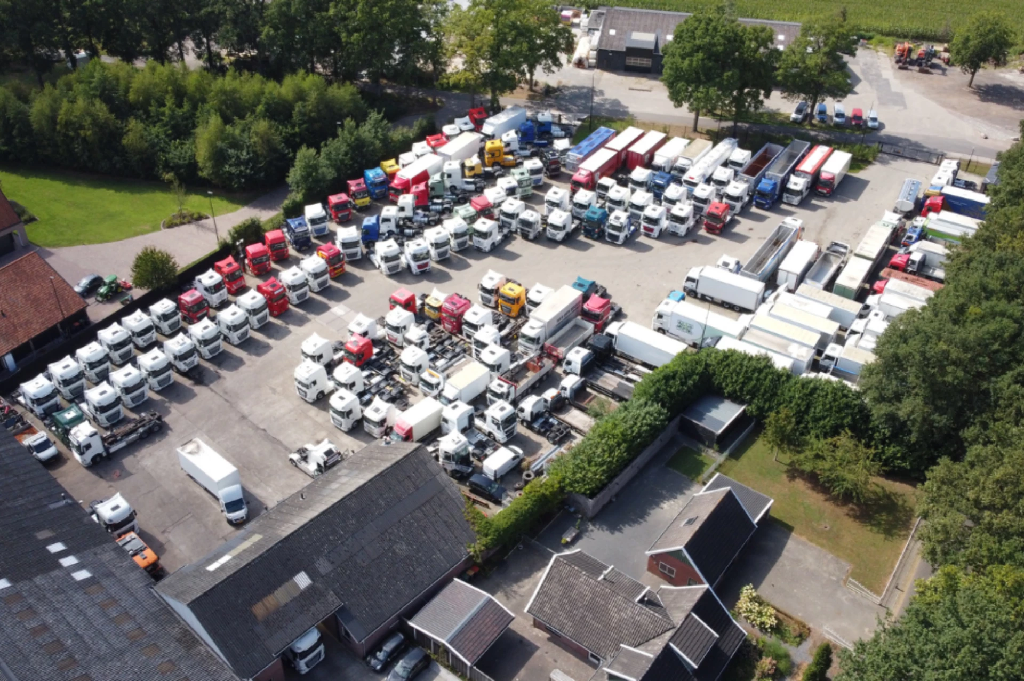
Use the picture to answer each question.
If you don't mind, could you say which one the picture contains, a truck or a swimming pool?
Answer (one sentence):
The one in the frame is a truck.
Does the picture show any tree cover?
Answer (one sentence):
Yes, the picture does contain tree cover.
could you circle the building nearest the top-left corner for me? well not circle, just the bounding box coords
[0,190,28,248]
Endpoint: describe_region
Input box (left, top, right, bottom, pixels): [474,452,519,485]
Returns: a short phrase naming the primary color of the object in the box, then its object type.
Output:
white van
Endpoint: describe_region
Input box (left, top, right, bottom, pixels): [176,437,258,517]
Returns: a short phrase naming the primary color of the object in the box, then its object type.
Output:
white van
